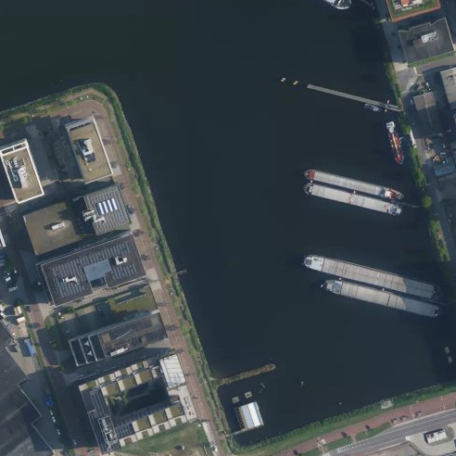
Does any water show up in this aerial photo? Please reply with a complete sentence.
Yes, water shows up in the scene.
